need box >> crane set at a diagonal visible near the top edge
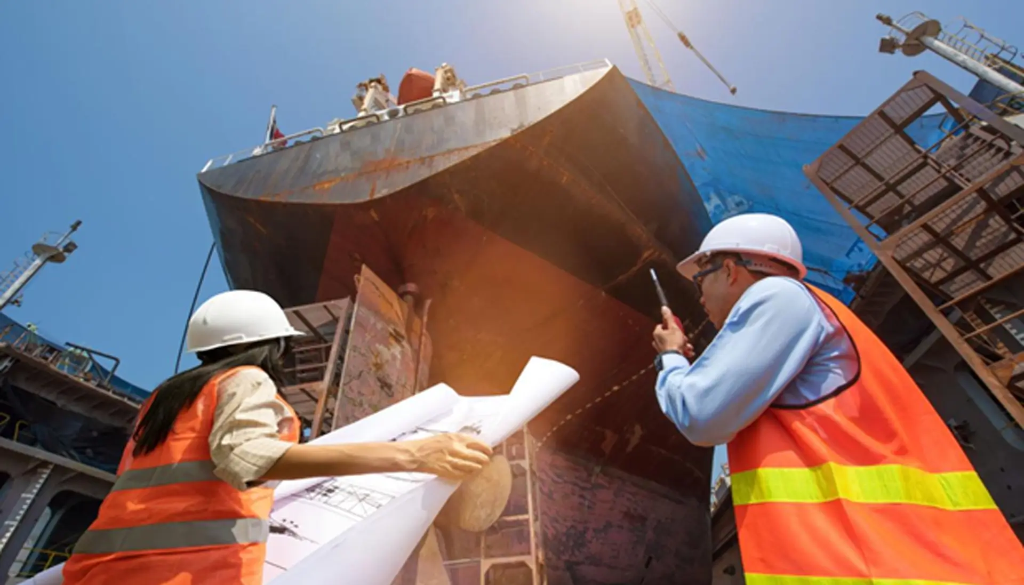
[613,0,738,96]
